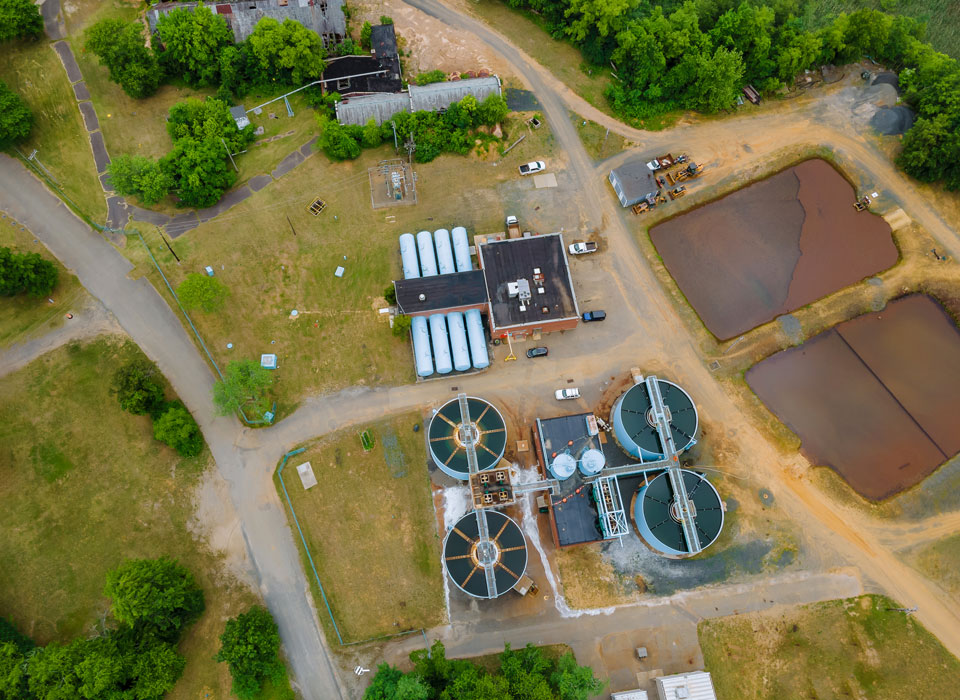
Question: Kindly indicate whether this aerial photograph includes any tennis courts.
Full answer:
No, the scene contains no tennis court.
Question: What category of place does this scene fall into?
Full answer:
This image shows an industrial area.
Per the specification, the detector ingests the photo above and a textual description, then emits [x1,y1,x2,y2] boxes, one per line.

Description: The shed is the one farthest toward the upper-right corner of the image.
[609,162,658,208]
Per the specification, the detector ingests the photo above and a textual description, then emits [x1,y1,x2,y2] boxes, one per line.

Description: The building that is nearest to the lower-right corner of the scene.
[650,671,714,700]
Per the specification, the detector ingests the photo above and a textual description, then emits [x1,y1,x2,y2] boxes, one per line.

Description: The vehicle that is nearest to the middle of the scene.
[526,346,549,358]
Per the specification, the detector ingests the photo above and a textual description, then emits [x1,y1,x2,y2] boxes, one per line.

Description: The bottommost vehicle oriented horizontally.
[554,386,581,400]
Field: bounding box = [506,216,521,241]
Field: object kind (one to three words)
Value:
vehicle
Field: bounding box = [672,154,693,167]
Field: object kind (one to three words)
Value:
vehicle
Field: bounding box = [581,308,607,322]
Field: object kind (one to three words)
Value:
car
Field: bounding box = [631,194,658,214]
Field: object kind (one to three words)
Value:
work vehicle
